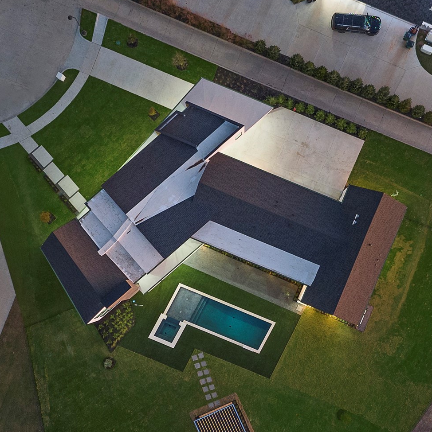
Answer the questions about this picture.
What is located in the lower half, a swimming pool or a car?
swimming pool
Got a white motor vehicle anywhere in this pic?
No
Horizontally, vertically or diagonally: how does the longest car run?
horizontally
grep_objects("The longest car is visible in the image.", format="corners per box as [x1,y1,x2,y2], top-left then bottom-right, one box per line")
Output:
[331,11,382,37]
